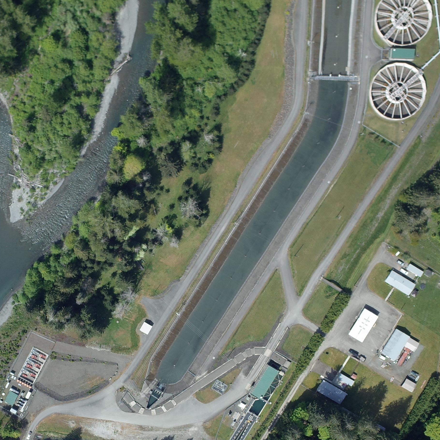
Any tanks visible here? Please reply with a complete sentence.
Yes, the image includes a tank.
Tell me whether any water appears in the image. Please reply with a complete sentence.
Yes, there is water in the image.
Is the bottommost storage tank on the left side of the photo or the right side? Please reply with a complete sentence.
The bottommost storage tank is on the right side of the image.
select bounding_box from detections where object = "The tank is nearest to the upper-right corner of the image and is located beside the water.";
[374,0,432,46]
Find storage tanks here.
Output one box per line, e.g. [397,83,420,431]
[368,63,427,122]
[374,0,432,46]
